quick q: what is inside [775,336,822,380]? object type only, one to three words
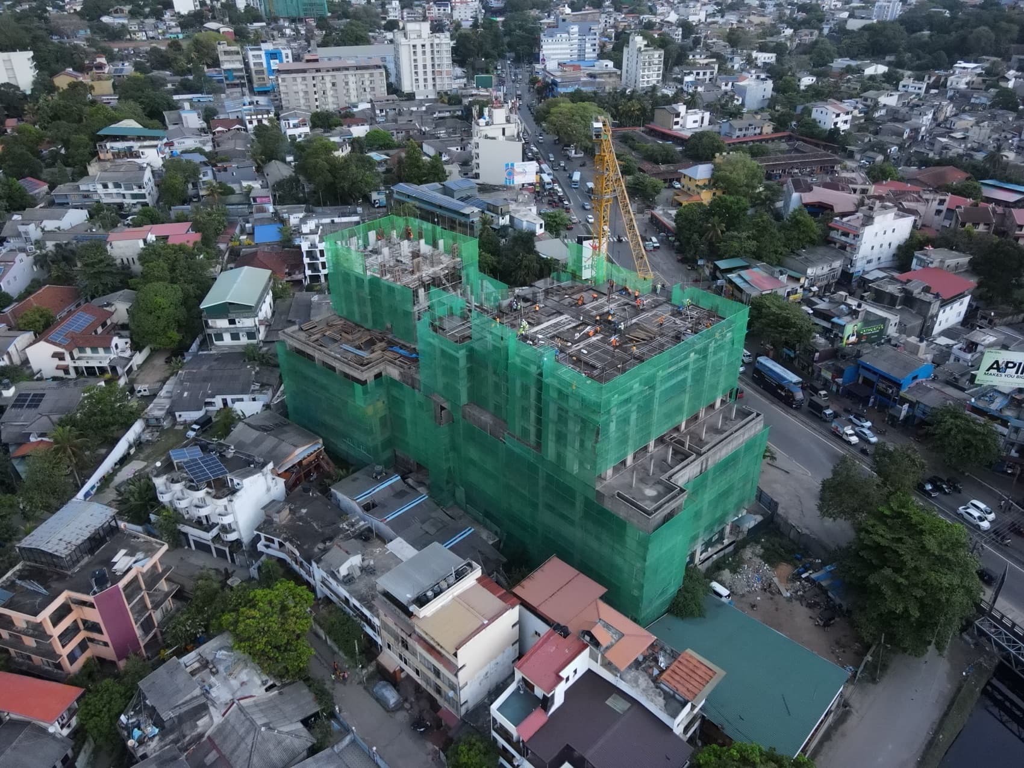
house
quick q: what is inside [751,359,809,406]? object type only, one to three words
bus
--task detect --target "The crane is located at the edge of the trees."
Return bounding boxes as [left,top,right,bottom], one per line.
[580,122,661,348]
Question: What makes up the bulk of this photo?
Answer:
buildings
